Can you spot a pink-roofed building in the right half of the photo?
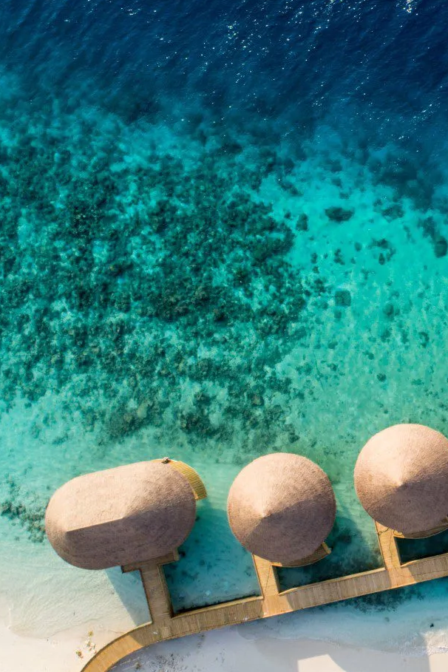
No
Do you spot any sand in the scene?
Yes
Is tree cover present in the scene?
No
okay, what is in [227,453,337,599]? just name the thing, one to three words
building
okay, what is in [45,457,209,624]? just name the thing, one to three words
building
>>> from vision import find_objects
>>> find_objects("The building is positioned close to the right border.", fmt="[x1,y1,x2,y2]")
[354,423,448,572]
